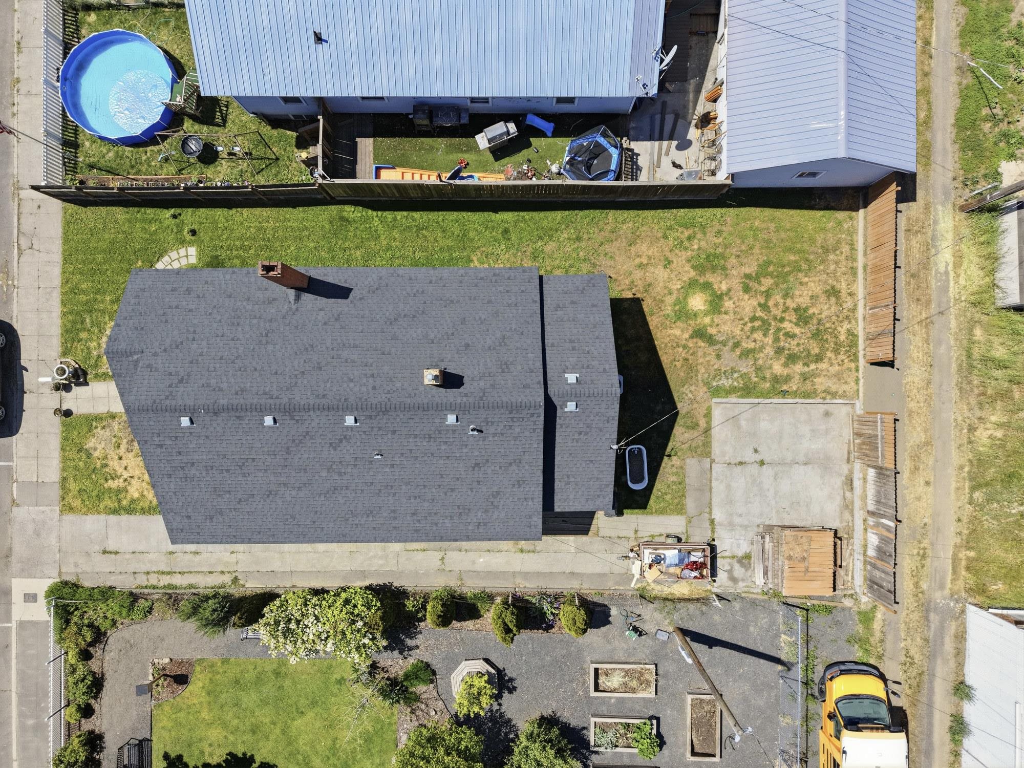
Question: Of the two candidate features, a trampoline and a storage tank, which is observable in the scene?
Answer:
trampoline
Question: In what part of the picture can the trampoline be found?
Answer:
top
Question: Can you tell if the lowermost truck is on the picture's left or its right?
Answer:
right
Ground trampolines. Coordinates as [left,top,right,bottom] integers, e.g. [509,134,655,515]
[566,113,628,180]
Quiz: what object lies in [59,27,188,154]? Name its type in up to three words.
swimming pool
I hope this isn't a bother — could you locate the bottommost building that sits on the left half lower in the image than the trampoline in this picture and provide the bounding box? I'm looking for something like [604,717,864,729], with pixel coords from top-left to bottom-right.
[104,259,620,542]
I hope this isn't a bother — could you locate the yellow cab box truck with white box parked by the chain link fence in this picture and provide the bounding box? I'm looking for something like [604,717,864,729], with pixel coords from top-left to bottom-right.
[813,659,909,768]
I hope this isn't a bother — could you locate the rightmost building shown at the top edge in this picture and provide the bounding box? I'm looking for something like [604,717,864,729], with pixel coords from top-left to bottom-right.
[715,0,917,187]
